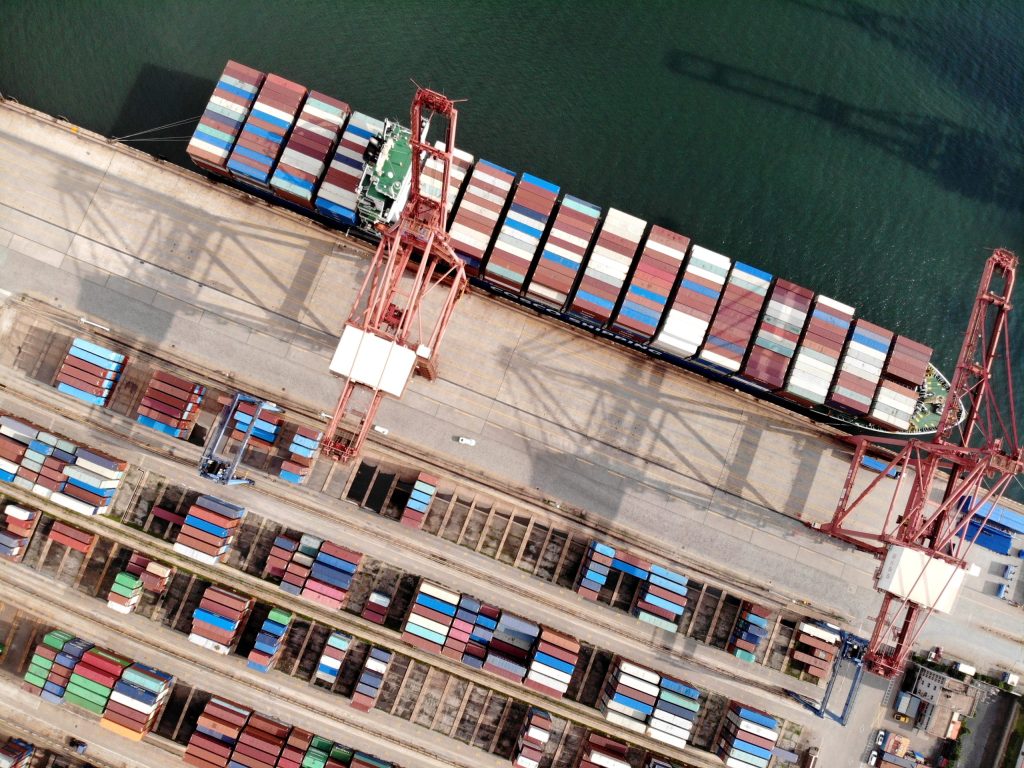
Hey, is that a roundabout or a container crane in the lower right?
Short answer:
container crane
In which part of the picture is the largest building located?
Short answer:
bottom right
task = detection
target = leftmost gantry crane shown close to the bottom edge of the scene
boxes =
[782,612,879,735]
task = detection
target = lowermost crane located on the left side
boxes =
[199,388,291,494]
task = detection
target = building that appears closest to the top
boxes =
[896,660,980,743]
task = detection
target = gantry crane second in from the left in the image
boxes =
[317,77,479,466]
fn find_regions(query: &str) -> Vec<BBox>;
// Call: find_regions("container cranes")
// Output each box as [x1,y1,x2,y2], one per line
[199,388,291,494]
[805,250,1024,683]
[317,77,479,466]
[782,612,879,735]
